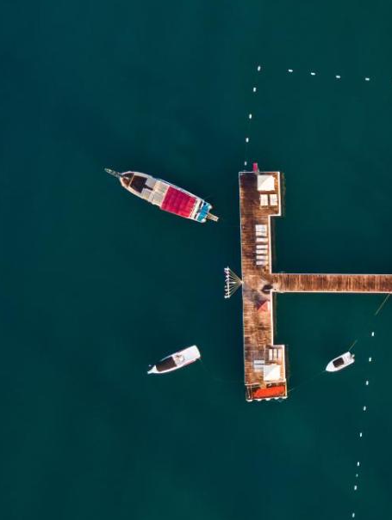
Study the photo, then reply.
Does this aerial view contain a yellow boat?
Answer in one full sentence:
No, no yellow boat is visible in the view.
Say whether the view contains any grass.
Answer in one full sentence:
No, grass can't be seen anywhere here.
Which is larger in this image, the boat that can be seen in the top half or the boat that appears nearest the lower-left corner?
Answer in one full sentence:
The boat that can be seen in the top half takes up more space than the boat that appears nearest the lower-left corner.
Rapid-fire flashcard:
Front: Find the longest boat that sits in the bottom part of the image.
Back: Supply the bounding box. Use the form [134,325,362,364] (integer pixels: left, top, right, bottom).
[144,345,201,375]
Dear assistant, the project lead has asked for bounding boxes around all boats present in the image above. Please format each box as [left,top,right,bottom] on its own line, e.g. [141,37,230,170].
[325,353,356,372]
[144,345,201,375]
[106,169,219,224]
